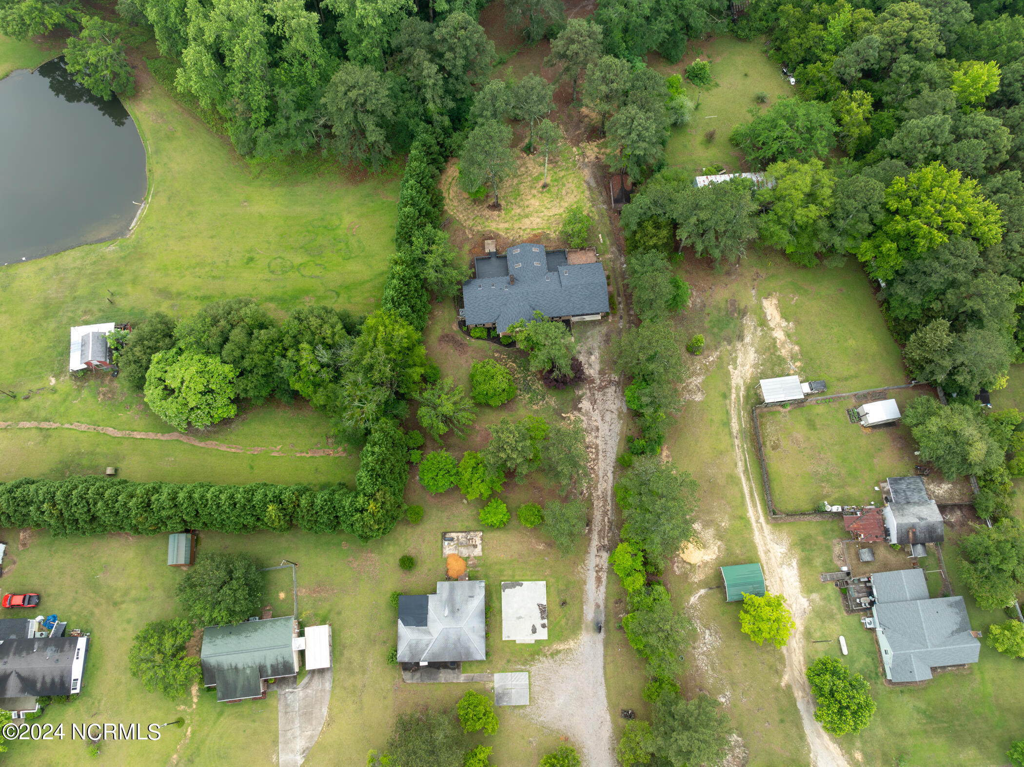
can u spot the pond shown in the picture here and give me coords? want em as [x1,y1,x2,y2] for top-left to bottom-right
[0,61,145,265]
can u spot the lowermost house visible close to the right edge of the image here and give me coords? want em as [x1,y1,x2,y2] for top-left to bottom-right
[869,568,986,682]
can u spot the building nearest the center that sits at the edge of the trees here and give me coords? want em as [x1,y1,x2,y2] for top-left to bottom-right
[463,243,609,339]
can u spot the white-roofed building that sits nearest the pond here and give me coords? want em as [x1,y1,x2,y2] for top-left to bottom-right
[70,323,119,373]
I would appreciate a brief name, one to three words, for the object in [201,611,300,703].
building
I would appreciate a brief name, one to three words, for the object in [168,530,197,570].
shed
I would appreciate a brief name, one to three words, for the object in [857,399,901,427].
shed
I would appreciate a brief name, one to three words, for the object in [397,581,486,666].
house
